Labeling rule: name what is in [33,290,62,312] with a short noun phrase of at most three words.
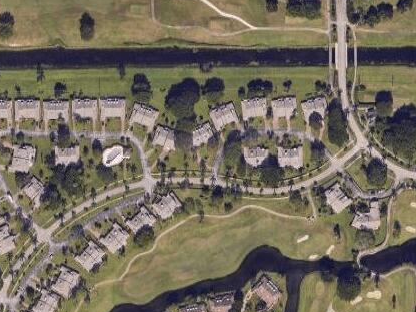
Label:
house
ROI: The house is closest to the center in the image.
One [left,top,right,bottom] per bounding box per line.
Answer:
[189,122,216,149]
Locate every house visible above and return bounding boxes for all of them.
[100,99,125,118]
[101,223,128,255]
[254,278,282,306]
[244,148,269,165]
[180,305,206,312]
[75,243,104,274]
[301,99,329,123]
[0,101,13,120]
[210,103,240,130]
[127,205,158,231]
[129,102,159,129]
[33,290,62,312]
[16,101,41,120]
[0,225,20,253]
[154,125,177,148]
[21,177,48,201]
[43,101,69,119]
[72,100,98,119]
[189,122,216,149]
[325,182,354,210]
[278,148,304,167]
[153,192,184,217]
[51,267,81,295]
[271,99,297,117]
[241,99,268,119]
[209,293,233,312]
[55,147,80,163]
[11,145,37,172]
